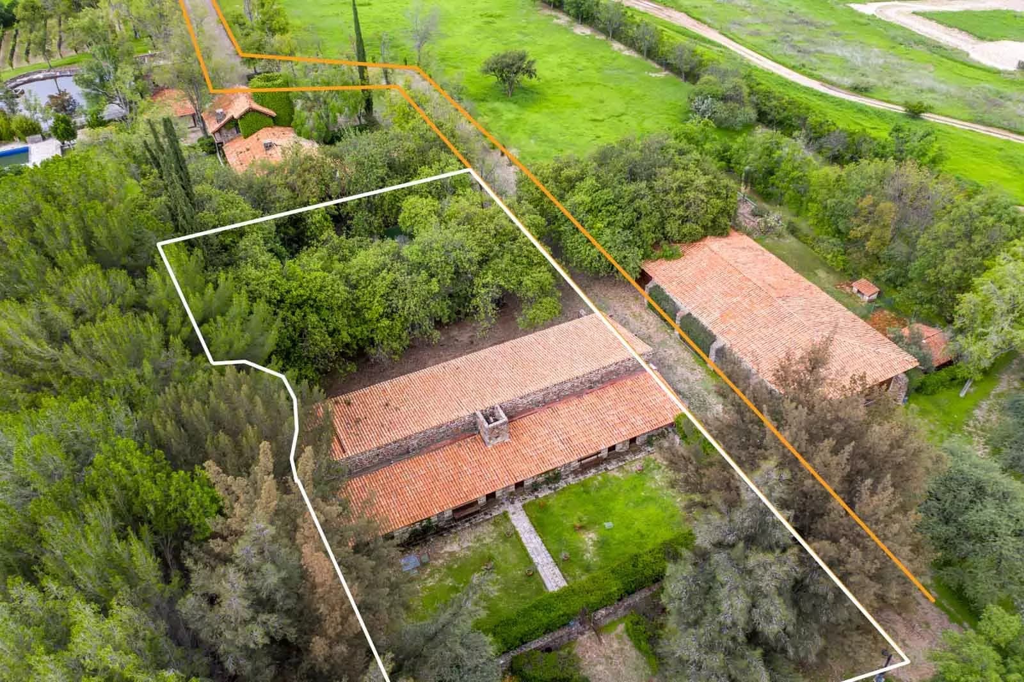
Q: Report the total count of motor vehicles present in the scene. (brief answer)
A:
0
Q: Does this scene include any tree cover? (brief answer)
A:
Yes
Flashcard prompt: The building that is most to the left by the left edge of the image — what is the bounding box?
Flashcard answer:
[15,131,49,145]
